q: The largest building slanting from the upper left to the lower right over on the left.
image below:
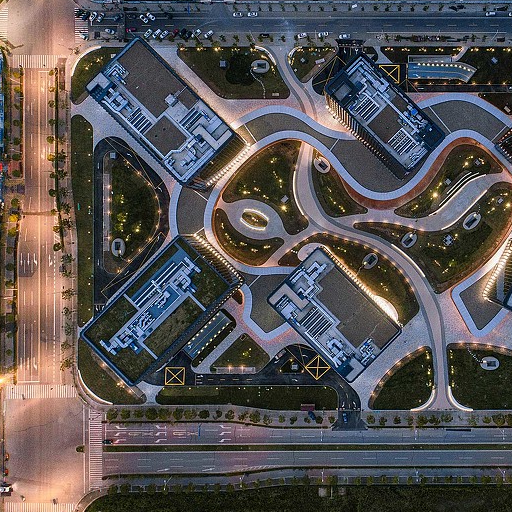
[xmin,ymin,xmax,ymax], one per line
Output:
[85,37,248,183]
